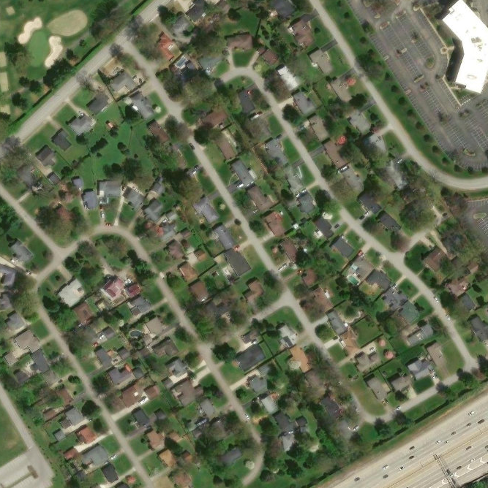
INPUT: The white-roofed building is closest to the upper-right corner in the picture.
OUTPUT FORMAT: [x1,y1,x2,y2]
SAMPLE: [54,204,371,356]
[439,0,488,96]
